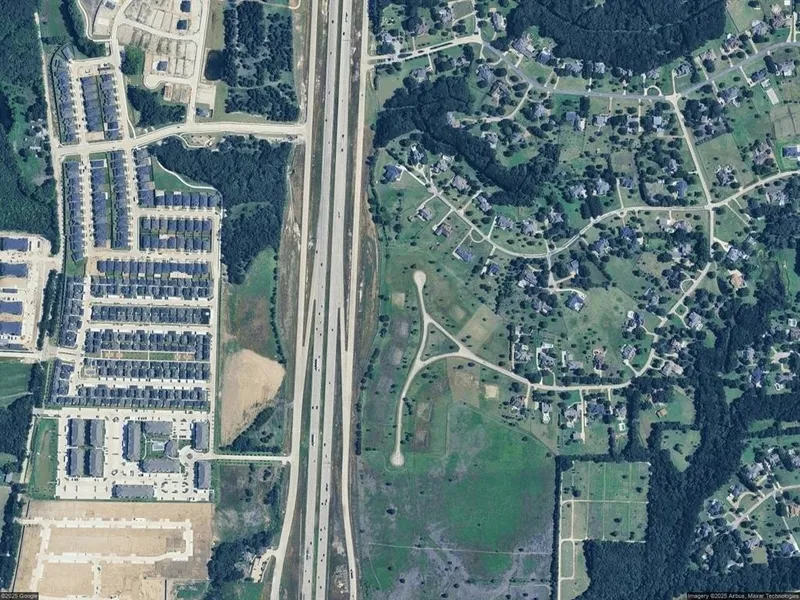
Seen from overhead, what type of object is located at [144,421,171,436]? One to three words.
building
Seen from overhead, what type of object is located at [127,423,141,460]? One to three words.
building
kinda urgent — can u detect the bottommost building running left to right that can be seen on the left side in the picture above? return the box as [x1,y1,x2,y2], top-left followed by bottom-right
[114,485,153,498]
